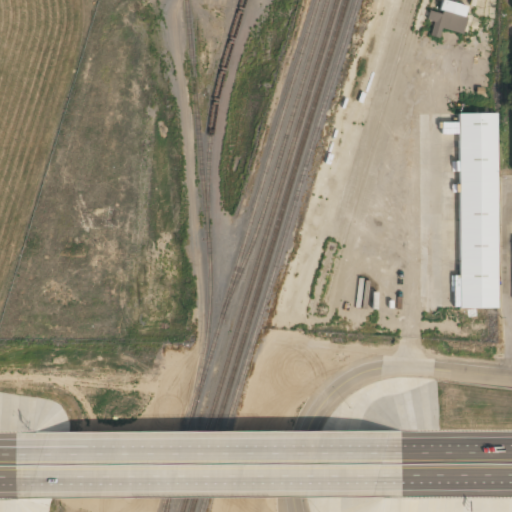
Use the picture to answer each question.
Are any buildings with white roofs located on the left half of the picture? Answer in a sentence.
No, on the left half of the picture there is no building with a white roof.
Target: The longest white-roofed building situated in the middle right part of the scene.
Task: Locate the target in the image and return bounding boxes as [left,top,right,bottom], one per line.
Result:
[440,113,500,308]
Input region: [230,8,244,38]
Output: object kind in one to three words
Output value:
rail car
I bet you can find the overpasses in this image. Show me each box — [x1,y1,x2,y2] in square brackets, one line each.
[17,431,402,498]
